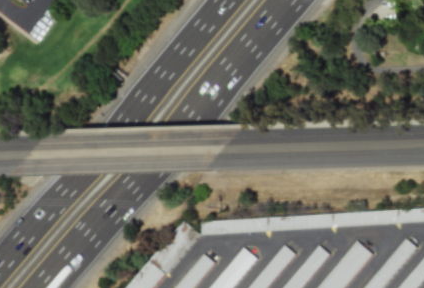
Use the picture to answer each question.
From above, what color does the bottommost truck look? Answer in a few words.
white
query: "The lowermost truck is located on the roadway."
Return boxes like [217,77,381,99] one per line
[48,254,84,288]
